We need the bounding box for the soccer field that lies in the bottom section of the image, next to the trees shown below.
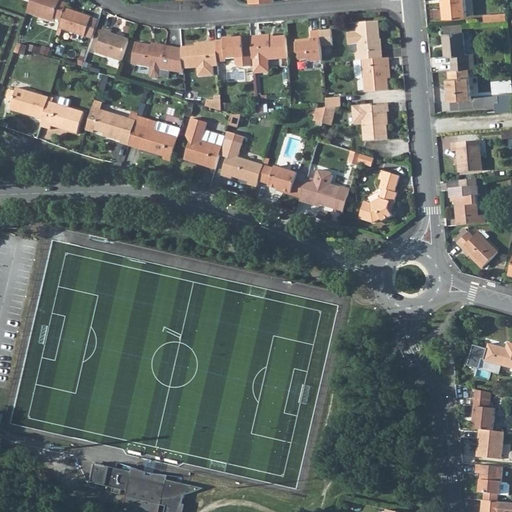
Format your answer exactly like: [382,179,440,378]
[10,242,338,489]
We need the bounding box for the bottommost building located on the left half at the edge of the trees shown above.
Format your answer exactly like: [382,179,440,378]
[90,464,204,512]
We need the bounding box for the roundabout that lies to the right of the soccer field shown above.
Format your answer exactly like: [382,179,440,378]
[376,244,444,312]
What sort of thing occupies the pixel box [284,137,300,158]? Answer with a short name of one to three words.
swimming pool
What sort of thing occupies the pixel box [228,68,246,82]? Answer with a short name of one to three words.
swimming pool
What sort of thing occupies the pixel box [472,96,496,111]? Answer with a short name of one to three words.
shed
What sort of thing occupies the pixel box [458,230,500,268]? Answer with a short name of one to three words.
house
